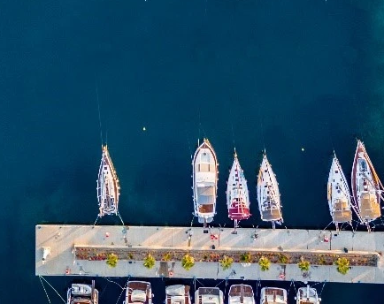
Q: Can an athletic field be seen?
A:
No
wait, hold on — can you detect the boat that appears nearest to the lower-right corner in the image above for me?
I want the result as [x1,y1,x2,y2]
[294,282,322,304]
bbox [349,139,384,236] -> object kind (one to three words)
boat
